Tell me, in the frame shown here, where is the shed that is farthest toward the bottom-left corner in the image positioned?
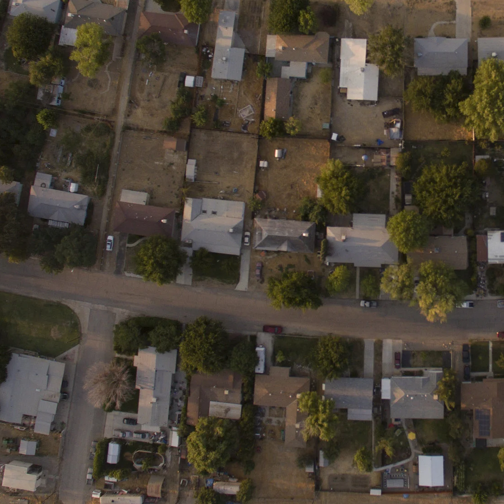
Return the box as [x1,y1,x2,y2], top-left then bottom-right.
[3,458,47,491]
